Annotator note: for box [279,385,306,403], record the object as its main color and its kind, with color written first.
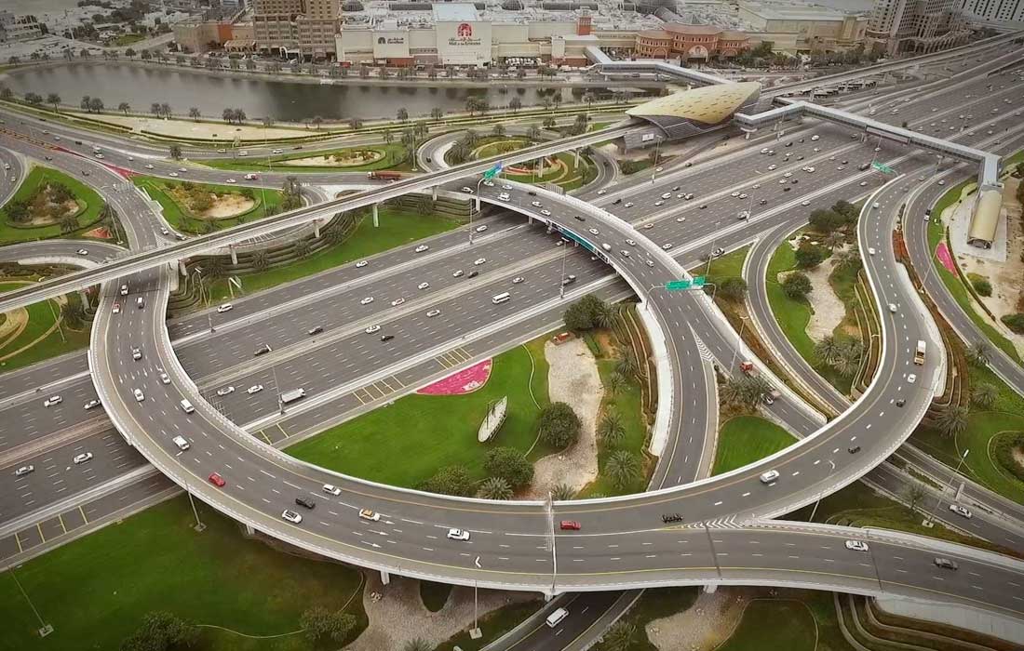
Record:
white vehicle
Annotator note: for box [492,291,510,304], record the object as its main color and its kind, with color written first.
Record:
white vehicle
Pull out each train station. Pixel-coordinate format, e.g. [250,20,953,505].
[607,81,760,151]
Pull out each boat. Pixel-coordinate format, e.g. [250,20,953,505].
[477,398,506,446]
